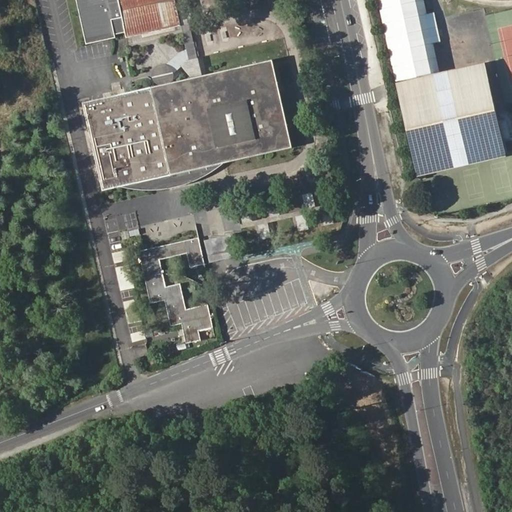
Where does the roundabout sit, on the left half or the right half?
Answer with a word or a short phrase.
right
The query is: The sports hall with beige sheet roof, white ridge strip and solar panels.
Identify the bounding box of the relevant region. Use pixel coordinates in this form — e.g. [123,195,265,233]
[396,62,507,176]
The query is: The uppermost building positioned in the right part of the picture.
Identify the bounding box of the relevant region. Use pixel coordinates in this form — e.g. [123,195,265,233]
[380,0,441,82]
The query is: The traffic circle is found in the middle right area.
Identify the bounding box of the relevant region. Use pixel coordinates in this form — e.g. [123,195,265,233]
[319,216,480,374]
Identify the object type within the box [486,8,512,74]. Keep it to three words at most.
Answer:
sports court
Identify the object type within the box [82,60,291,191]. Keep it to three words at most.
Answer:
building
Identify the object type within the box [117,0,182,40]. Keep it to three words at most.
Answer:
building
